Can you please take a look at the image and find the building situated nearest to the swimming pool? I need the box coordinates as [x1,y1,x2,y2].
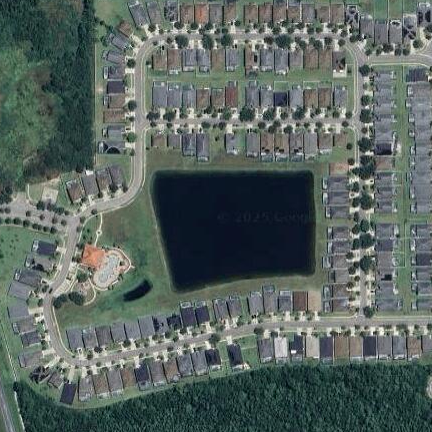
[80,244,106,268]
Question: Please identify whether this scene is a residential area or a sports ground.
residential area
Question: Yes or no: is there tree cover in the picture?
Yes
